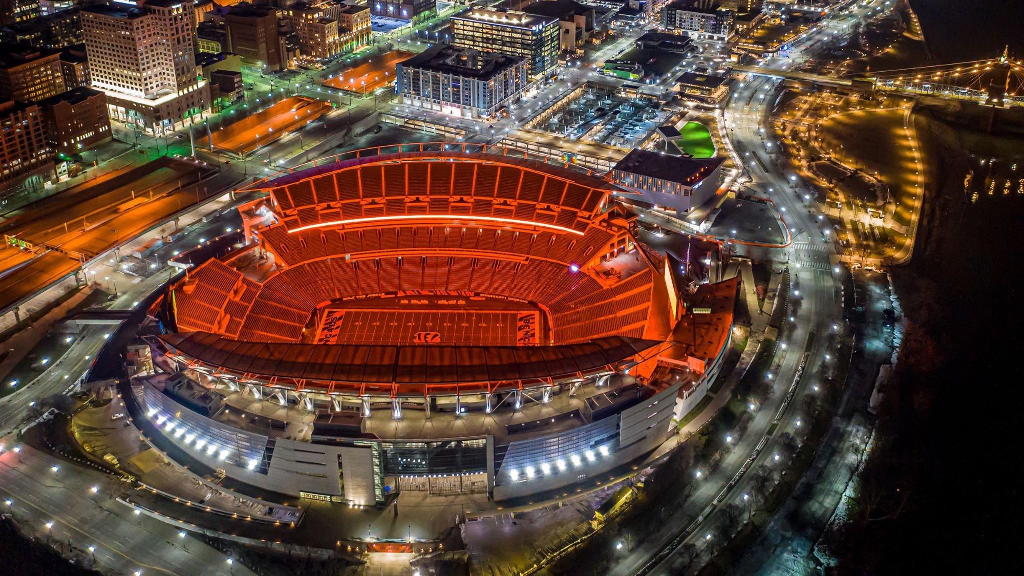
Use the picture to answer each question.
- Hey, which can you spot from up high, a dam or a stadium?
stadium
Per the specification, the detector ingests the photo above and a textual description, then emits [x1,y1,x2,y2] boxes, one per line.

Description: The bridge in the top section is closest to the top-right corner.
[731,16,1024,113]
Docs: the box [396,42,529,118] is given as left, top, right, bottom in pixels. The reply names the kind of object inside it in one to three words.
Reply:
building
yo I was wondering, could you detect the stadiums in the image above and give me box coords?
[132,142,740,507]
